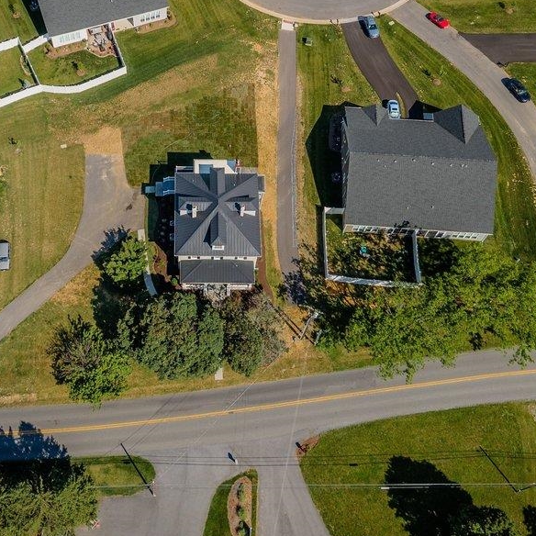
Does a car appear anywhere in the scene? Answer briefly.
Yes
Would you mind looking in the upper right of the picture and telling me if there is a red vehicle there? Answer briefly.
Yes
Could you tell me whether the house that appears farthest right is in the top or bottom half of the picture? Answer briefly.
top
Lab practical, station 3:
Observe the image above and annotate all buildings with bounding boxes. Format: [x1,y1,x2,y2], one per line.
[132,158,263,303]
[334,102,498,242]
[34,0,168,48]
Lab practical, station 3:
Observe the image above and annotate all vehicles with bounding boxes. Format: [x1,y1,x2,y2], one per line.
[424,9,450,32]
[387,95,401,117]
[360,11,379,42]
[0,241,9,269]
[505,77,527,103]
